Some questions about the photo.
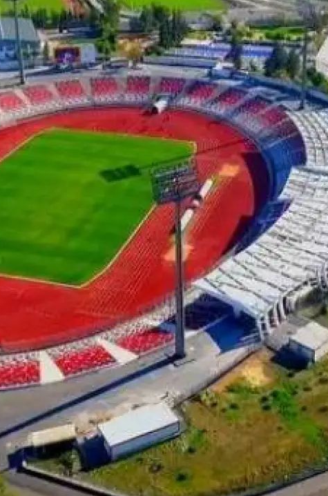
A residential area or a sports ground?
sports ground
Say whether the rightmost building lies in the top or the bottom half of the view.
bottom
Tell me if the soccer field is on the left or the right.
left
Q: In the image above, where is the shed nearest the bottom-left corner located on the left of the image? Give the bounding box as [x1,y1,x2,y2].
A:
[28,421,77,457]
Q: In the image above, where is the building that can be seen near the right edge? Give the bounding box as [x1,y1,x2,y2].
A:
[288,321,328,363]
